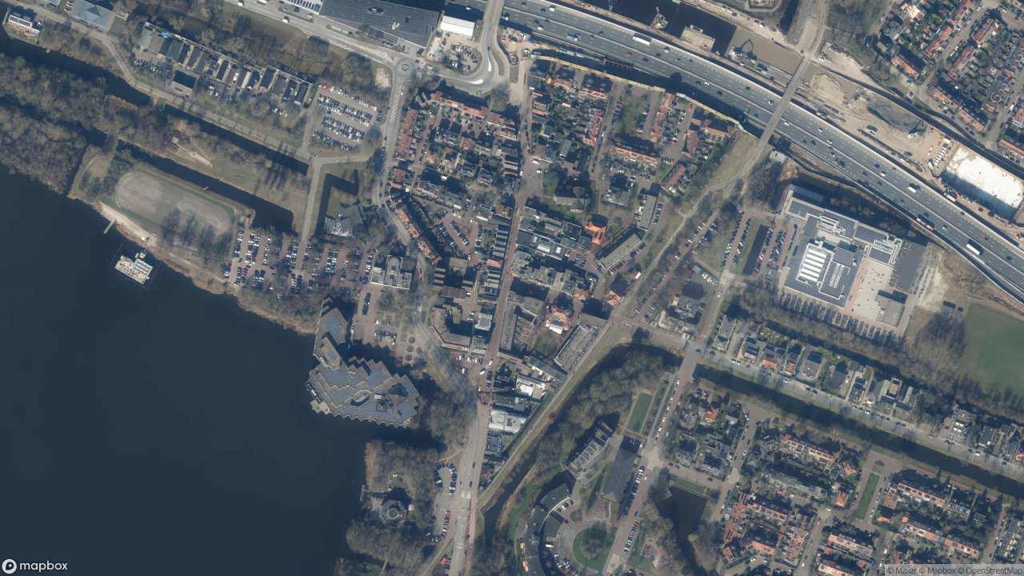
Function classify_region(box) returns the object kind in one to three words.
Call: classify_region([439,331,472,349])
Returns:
building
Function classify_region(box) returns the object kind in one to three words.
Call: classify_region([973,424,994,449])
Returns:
house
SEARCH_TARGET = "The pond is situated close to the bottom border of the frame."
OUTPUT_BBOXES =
[657,485,708,576]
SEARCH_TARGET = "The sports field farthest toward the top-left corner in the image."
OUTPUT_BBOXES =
[110,166,242,254]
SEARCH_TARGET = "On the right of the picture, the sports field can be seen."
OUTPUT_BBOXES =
[957,301,1024,398]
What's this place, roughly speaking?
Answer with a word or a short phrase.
residential area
